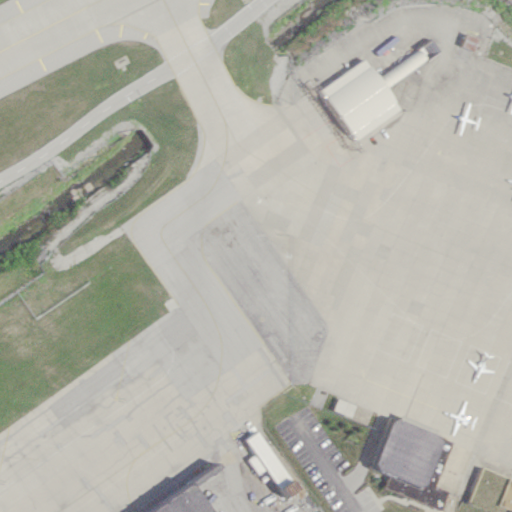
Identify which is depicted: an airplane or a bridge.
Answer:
airplane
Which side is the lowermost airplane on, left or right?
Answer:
right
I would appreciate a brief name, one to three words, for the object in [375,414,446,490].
building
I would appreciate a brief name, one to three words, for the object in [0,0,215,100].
runway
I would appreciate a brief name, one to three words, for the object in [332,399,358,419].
building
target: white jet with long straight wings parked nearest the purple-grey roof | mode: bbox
[446,401,478,436]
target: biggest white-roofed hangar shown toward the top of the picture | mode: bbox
[320,61,404,142]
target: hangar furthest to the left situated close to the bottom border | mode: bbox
[140,466,224,512]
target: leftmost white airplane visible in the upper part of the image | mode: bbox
[456,104,480,134]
